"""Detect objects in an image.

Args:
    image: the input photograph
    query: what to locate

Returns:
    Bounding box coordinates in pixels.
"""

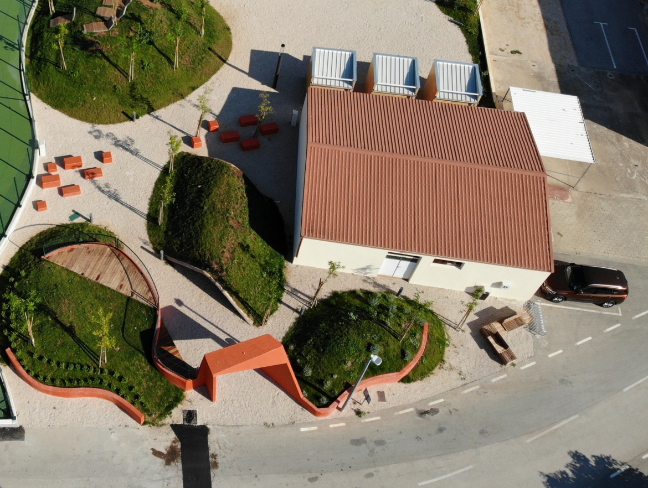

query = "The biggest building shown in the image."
[292,86,554,298]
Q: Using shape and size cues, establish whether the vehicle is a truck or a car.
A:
car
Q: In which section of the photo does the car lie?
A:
right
